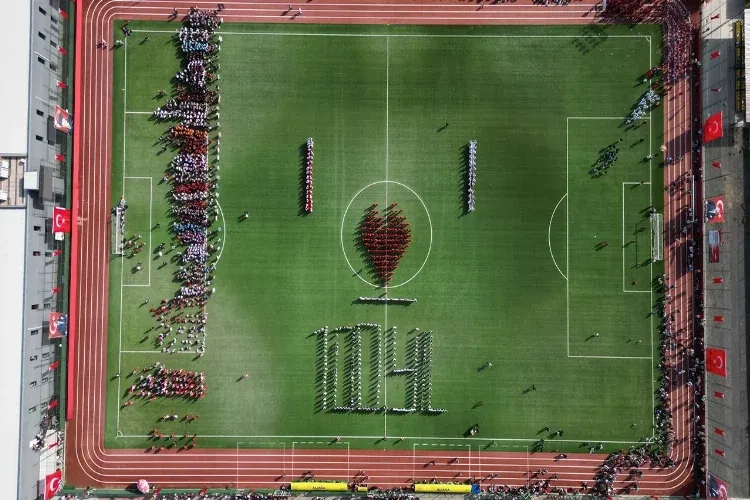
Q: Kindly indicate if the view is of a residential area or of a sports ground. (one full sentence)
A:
What you see here is a sports ground.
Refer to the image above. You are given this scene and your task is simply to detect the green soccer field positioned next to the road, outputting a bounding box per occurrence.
[105,20,666,488]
